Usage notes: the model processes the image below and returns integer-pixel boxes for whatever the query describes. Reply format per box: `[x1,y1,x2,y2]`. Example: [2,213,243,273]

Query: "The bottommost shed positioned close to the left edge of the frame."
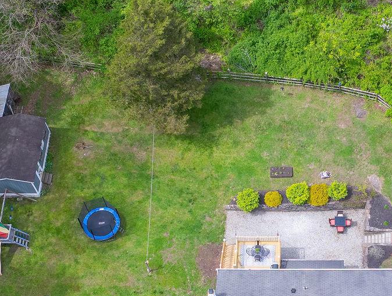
[0,113,51,194]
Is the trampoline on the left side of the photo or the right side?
left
